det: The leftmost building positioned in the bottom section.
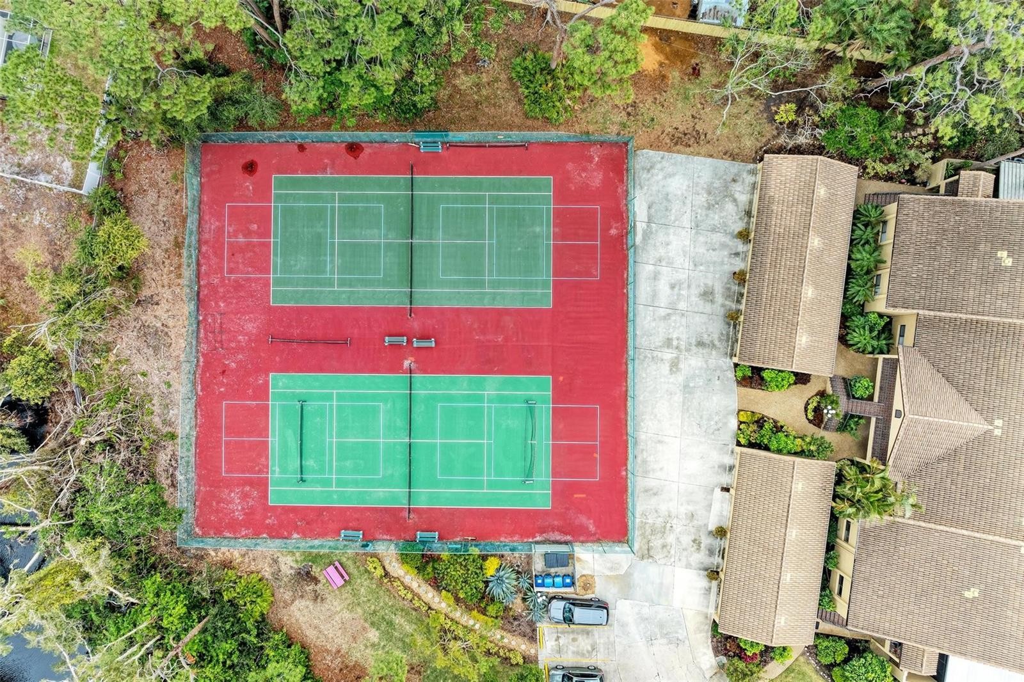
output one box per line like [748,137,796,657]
[535,545,578,595]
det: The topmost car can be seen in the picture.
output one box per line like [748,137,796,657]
[548,595,608,627]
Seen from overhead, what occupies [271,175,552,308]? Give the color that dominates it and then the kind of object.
green tennis court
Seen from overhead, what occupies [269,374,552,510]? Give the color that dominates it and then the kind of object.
green tennis court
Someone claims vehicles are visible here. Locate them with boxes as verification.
[549,667,604,682]
[548,595,608,627]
